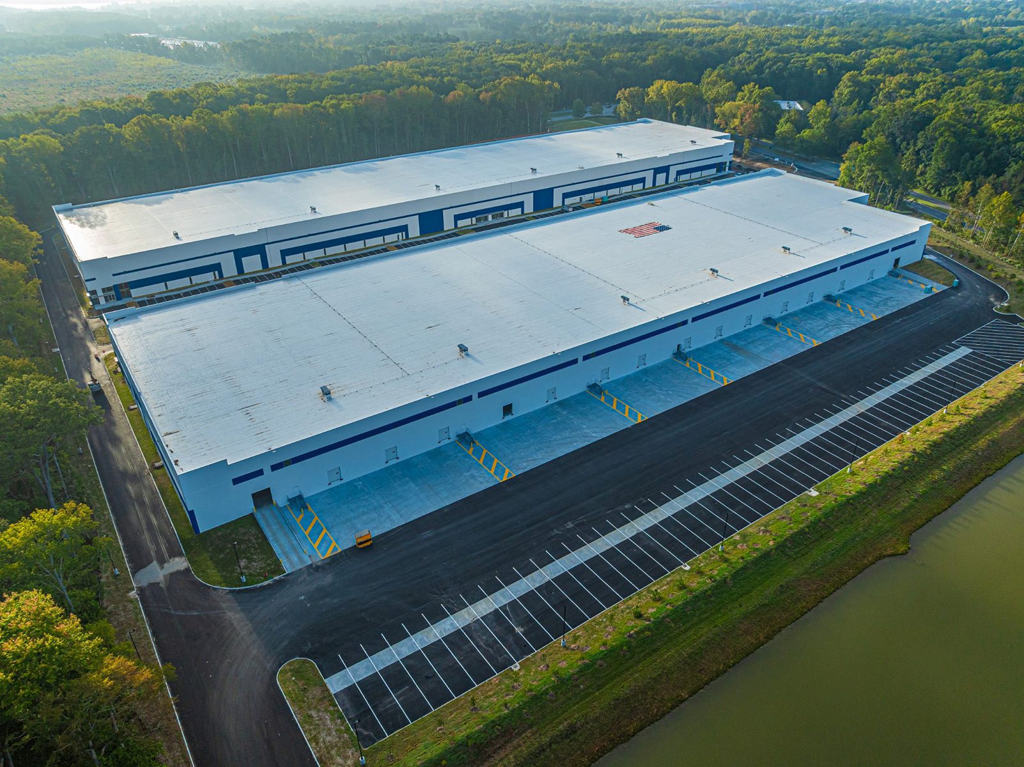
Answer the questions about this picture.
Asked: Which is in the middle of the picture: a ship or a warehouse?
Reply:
warehouse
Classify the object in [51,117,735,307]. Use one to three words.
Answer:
warehouse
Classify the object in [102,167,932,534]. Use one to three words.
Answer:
warehouse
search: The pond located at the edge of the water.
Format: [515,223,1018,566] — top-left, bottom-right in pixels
[600,455,1024,767]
